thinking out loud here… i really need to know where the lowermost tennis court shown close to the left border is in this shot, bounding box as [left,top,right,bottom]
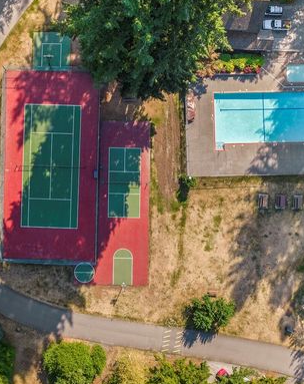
[0,71,99,262]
